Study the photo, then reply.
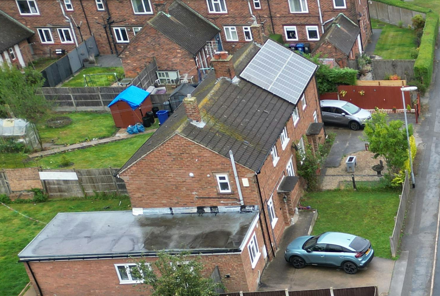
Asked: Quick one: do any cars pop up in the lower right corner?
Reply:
Yes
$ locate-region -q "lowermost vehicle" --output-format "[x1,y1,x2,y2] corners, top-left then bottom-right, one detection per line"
[284,226,378,272]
